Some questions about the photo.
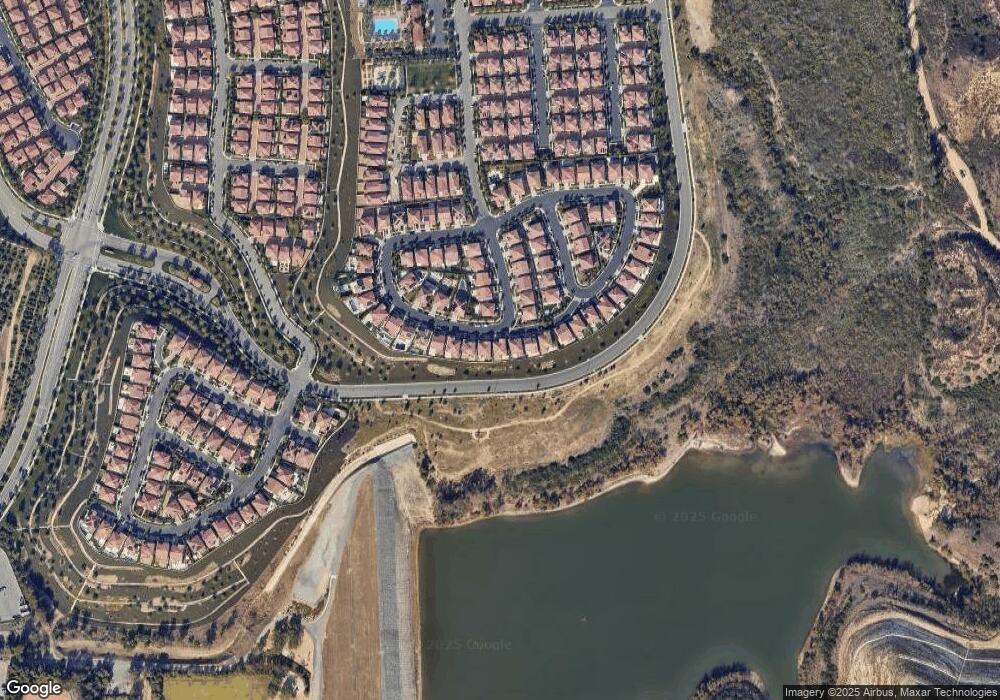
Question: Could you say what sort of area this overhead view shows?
residential area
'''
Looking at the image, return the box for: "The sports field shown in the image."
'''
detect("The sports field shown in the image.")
[164,673,263,700]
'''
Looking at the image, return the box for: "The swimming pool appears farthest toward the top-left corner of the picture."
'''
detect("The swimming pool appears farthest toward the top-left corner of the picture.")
[373,18,398,33]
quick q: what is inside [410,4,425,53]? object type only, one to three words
building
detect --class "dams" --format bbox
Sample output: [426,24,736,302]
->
[323,456,417,700]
